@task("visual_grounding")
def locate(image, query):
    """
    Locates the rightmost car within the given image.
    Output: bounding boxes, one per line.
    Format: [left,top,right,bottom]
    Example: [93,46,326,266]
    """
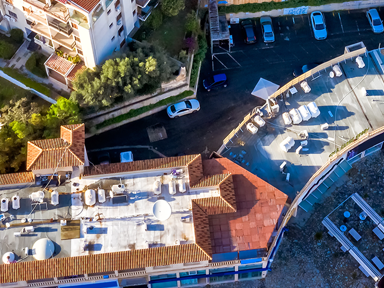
[366,4,384,34]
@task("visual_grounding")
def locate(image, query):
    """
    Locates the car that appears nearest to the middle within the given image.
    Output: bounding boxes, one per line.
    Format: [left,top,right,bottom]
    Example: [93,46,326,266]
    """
[166,94,203,119]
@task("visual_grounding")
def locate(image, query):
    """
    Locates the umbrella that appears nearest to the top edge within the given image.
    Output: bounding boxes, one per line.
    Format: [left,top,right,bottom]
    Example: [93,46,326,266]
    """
[252,75,278,96]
